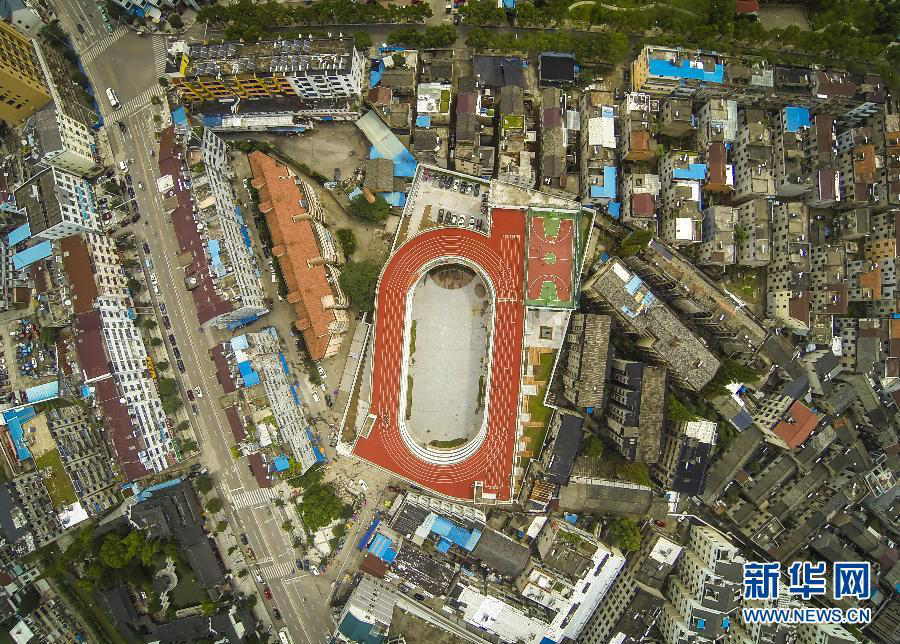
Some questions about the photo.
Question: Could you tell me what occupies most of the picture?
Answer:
buildings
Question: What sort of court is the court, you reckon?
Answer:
basketball court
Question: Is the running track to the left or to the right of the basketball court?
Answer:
left of it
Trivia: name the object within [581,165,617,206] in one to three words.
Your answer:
house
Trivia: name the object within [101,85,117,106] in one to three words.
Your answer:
vehicle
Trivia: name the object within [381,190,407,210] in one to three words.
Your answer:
shed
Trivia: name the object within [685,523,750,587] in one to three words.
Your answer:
building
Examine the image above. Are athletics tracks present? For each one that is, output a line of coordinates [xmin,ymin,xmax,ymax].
[354,209,530,500]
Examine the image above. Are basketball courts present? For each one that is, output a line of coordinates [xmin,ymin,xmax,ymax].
[525,206,584,309]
